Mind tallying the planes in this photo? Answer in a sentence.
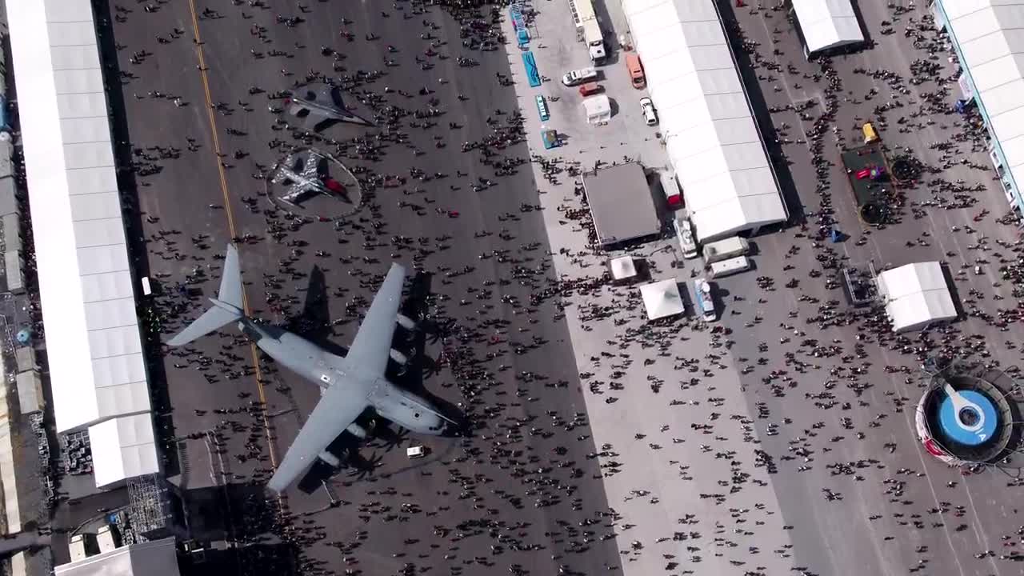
The count of planes comes to 3.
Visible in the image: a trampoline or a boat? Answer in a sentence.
Looking from above, you can make out a trampoline.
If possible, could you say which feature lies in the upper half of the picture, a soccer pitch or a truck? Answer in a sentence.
It is a truck that can be seen in the upper half of the picture.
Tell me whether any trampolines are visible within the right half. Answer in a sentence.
Yes, a trampoline is visible within the right half.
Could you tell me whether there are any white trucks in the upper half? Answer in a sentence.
Yes, I can see a white truck in the upper half.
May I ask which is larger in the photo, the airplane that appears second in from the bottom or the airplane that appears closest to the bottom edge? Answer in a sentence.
The airplane that appears second in from the bottom is smaller than the airplane that appears closest to the bottom edge.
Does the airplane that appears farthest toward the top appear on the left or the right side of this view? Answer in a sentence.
You can find the airplane that appears farthest toward the top on the left side of the picture.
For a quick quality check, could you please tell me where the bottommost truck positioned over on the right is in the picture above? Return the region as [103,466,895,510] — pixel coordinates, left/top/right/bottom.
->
[691,279,716,324]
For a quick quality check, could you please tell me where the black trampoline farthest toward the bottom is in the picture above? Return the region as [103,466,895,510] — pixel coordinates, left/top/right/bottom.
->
[862,202,885,224]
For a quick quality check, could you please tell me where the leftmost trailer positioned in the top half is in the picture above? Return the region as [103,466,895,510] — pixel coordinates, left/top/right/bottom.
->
[503,0,531,52]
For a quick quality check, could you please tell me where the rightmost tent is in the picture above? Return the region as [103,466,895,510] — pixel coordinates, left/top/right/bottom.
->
[924,0,1024,250]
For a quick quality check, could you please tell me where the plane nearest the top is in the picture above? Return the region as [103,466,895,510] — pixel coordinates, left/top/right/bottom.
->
[291,83,369,132]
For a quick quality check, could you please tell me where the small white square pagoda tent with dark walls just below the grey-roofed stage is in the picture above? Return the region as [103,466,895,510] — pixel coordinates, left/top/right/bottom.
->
[609,256,637,285]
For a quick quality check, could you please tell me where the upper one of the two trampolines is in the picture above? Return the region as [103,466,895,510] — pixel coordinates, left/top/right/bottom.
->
[892,158,916,181]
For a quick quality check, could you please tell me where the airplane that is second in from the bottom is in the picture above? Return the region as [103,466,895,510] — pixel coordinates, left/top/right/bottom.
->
[271,154,353,207]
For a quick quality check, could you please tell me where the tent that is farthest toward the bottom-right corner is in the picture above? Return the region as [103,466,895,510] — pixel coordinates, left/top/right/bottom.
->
[876,261,957,335]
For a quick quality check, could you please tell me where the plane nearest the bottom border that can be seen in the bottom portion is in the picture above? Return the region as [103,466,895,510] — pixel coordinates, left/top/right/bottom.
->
[167,245,461,491]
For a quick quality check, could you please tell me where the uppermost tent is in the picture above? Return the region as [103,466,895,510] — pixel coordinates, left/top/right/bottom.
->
[786,0,865,60]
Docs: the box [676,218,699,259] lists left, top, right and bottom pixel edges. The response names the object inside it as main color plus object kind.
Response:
white truck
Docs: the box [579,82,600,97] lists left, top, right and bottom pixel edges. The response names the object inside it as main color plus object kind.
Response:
red car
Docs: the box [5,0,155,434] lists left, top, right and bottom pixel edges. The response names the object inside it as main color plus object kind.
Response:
white tent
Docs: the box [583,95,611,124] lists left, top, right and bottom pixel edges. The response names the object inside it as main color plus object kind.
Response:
white gazebo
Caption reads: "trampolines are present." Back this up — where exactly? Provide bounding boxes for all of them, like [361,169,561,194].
[892,158,916,181]
[862,202,885,224]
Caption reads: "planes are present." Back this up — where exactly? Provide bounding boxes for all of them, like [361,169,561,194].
[291,83,369,132]
[167,245,461,491]
[271,154,353,207]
